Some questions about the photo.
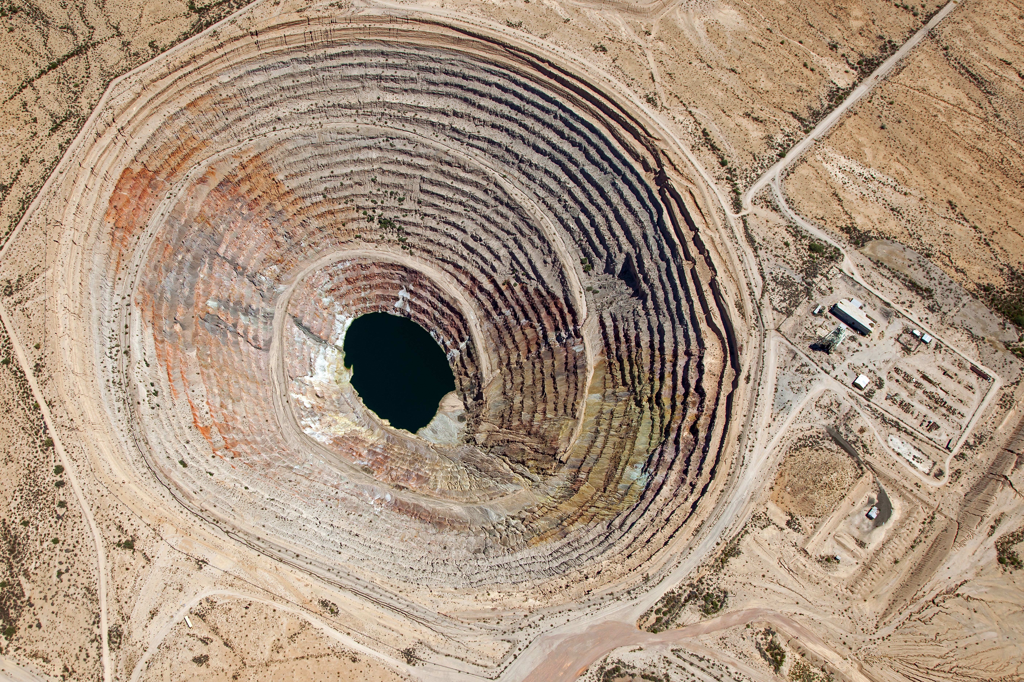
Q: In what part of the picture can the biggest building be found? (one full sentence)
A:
The biggest building is in the right part of the image.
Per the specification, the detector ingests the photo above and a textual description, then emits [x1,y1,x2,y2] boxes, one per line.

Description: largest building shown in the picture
[835,299,876,334]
